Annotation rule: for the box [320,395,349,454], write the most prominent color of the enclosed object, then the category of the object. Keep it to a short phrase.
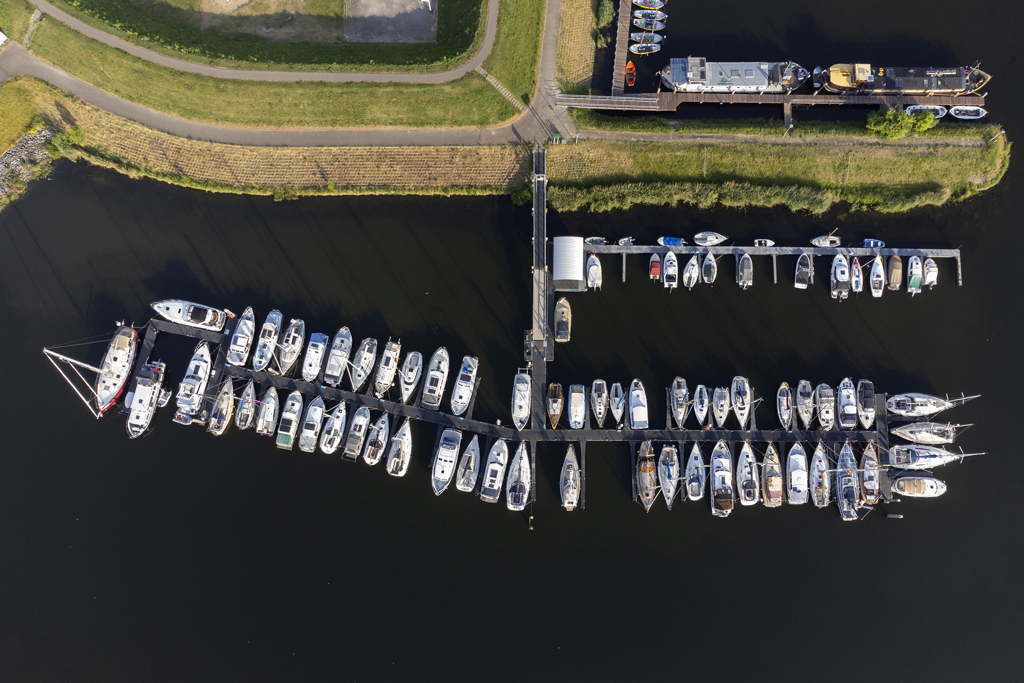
white boat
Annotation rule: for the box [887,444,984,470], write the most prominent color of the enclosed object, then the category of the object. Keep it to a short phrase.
white boat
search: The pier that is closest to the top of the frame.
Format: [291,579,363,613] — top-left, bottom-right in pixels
[611,0,632,93]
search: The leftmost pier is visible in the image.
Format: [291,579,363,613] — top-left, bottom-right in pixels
[122,329,159,414]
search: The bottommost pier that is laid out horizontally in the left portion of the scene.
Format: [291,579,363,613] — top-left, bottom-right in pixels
[224,366,522,441]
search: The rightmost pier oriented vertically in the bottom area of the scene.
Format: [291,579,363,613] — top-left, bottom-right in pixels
[874,394,892,499]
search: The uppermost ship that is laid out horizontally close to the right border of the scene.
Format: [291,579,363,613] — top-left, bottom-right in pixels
[819,57,995,95]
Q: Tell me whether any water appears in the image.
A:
Yes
